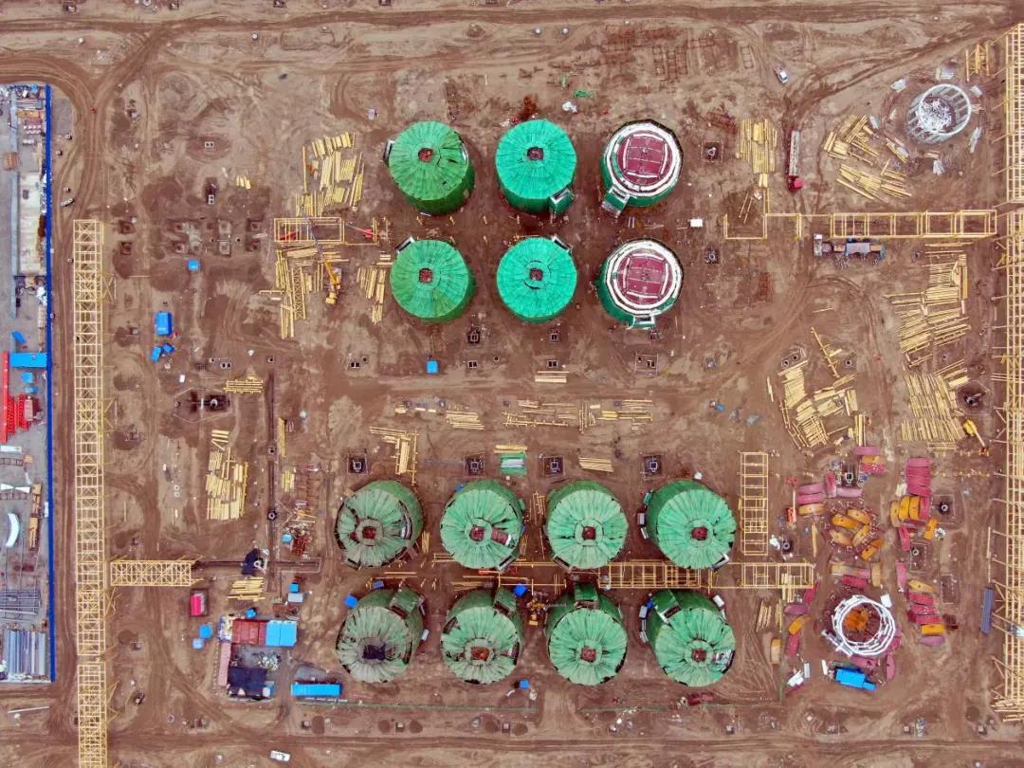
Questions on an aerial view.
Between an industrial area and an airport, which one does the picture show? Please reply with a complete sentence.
This looks like an industrial area.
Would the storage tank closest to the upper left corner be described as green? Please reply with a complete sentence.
Yes, the storage tank closest to the upper left corner is indeed green.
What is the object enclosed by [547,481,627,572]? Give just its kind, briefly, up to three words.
storage tank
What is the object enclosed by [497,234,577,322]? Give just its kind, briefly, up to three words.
storage tank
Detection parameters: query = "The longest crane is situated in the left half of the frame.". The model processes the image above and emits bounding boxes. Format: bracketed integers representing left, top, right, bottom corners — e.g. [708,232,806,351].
[305,219,347,303]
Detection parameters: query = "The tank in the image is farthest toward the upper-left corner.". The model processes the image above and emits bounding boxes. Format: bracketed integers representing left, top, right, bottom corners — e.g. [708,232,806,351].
[379,120,474,214]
